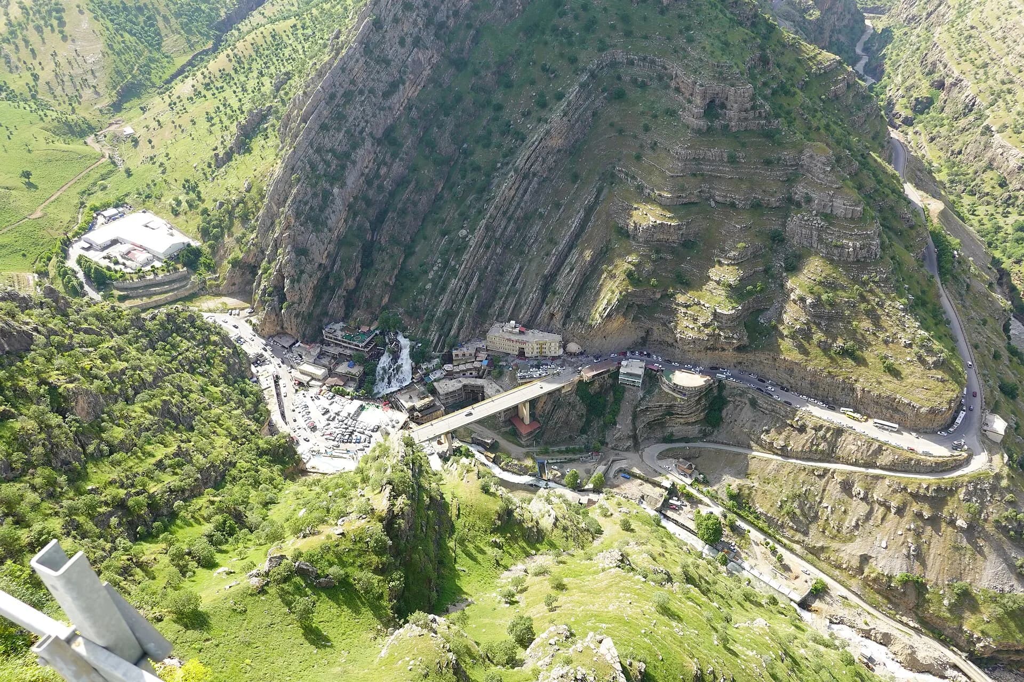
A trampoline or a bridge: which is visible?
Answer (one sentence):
There is a bridge in the scene.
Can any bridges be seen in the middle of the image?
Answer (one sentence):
Yes, a bridge can be seen in the middle of the image.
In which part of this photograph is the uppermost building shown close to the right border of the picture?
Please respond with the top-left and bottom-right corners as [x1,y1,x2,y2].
[979,413,1008,444]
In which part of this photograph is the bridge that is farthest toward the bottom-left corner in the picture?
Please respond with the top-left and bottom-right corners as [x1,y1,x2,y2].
[411,371,584,448]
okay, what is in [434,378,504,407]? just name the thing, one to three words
building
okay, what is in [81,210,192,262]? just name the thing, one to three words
building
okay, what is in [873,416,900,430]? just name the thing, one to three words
vehicle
